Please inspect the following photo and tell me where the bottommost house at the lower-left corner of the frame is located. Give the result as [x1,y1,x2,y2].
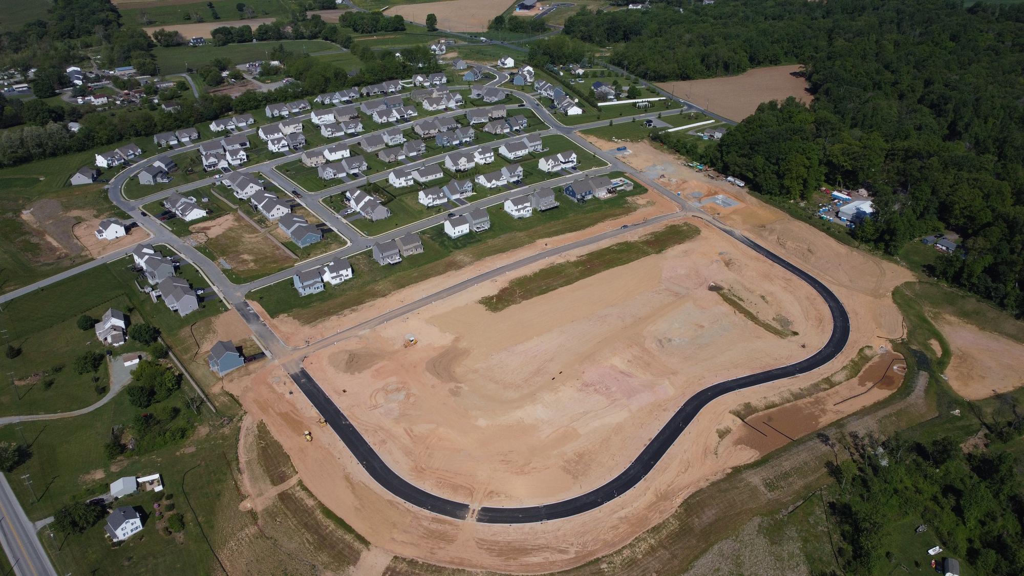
[101,497,143,545]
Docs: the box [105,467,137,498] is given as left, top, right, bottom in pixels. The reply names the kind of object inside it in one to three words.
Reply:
building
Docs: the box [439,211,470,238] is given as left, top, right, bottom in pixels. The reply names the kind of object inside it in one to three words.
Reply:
house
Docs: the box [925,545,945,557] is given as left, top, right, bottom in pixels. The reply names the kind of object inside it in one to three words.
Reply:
boat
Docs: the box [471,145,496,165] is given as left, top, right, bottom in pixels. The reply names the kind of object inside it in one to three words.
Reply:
house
